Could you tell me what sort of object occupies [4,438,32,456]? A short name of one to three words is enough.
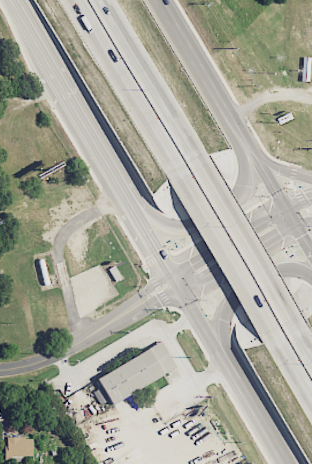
house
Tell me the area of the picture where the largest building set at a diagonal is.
bottom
